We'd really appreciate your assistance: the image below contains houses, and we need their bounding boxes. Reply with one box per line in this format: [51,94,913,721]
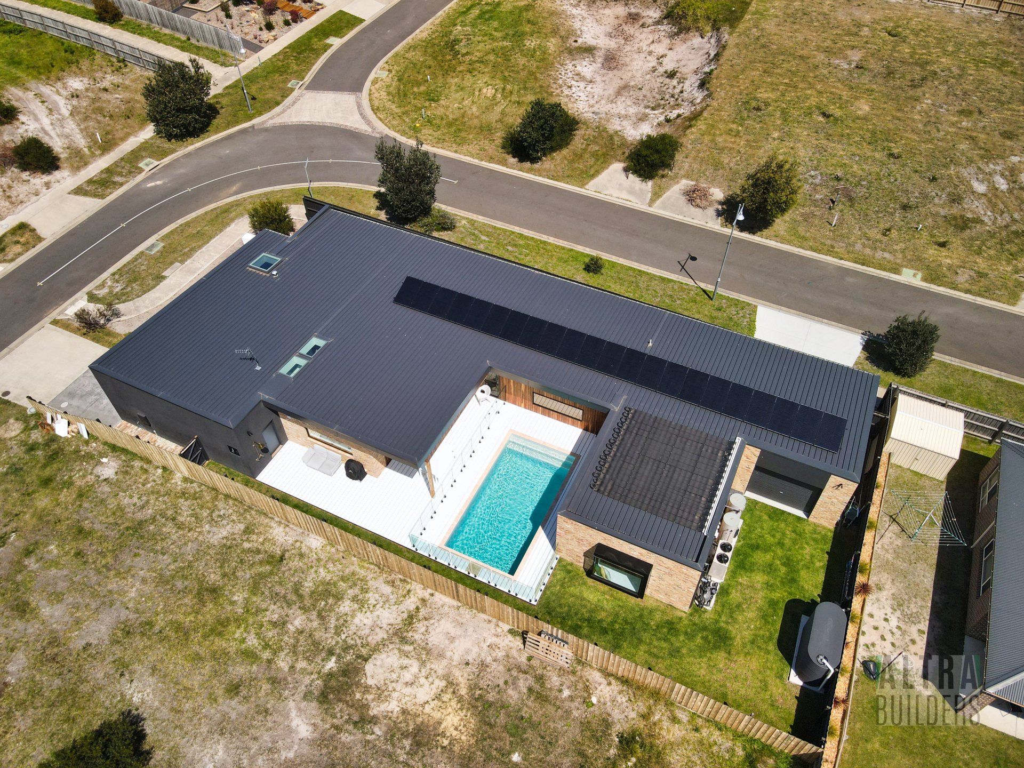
[955,433,1024,719]
[89,205,881,612]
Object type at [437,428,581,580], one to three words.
swimming pool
